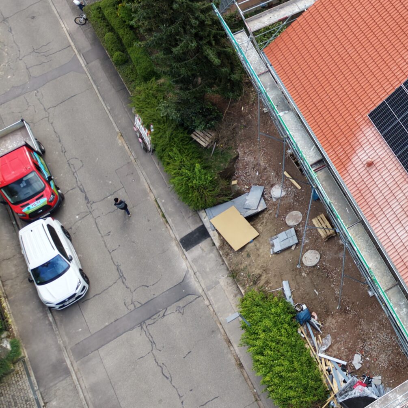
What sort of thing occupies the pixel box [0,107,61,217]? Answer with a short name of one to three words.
truck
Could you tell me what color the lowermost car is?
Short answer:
white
